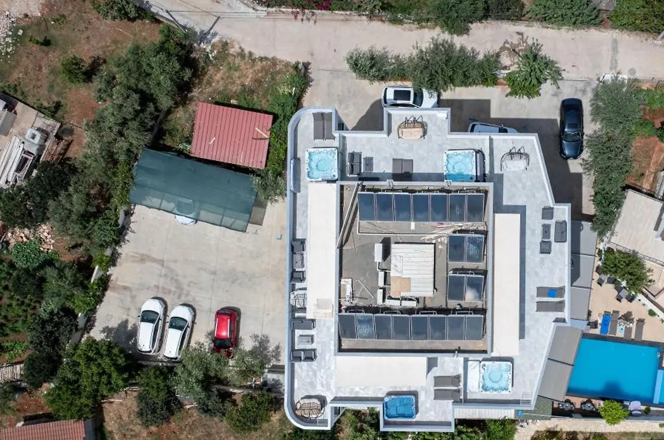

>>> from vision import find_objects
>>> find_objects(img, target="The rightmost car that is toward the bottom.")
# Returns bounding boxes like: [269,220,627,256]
[211,307,239,357]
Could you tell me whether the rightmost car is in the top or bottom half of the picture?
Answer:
top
